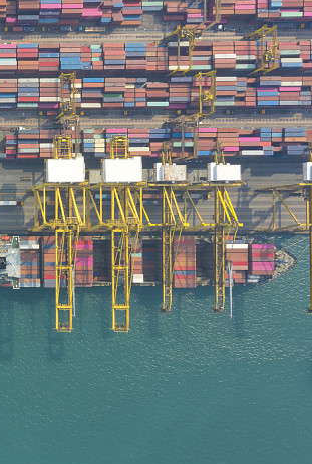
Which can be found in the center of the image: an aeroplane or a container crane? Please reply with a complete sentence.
Looking in the center of the image, you will find a container crane.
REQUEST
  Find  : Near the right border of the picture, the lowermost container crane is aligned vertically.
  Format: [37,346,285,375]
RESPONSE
[241,137,312,314]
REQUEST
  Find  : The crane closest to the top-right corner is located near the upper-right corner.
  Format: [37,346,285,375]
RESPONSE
[239,25,278,80]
